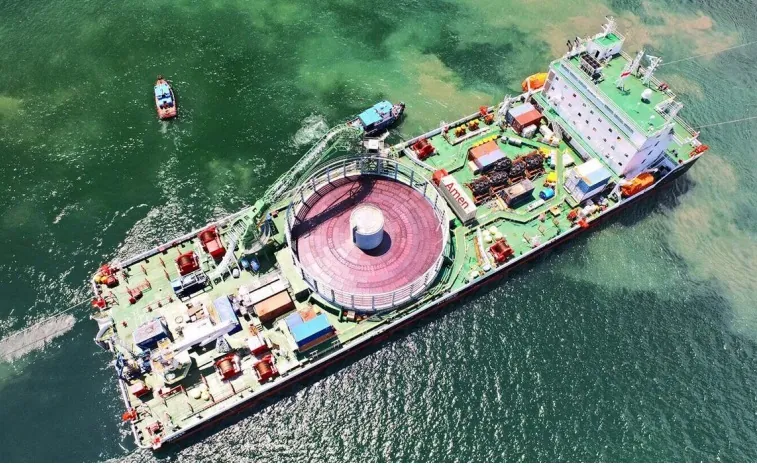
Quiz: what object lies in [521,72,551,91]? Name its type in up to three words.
boat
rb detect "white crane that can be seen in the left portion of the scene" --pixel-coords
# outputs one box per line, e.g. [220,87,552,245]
[146,317,244,382]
